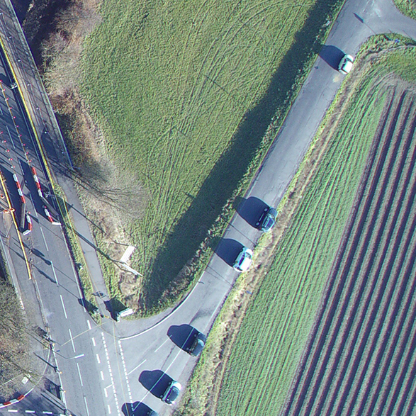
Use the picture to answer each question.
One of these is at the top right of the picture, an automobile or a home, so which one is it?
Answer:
automobile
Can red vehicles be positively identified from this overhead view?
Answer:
No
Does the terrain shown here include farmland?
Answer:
Yes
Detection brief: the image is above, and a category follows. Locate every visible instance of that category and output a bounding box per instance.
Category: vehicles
[185,330,206,358]
[256,207,276,232]
[336,53,353,76]
[159,379,181,406]
[232,248,251,272]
